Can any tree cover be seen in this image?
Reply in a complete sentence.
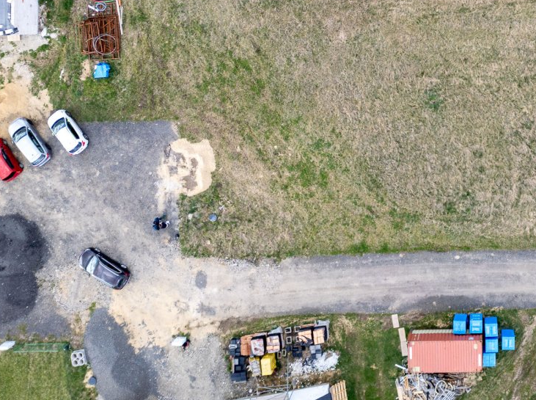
No, no tree cover is visible.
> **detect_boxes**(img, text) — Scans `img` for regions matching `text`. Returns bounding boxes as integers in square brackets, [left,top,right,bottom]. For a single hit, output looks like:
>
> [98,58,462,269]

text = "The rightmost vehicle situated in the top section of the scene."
[49,108,90,157]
